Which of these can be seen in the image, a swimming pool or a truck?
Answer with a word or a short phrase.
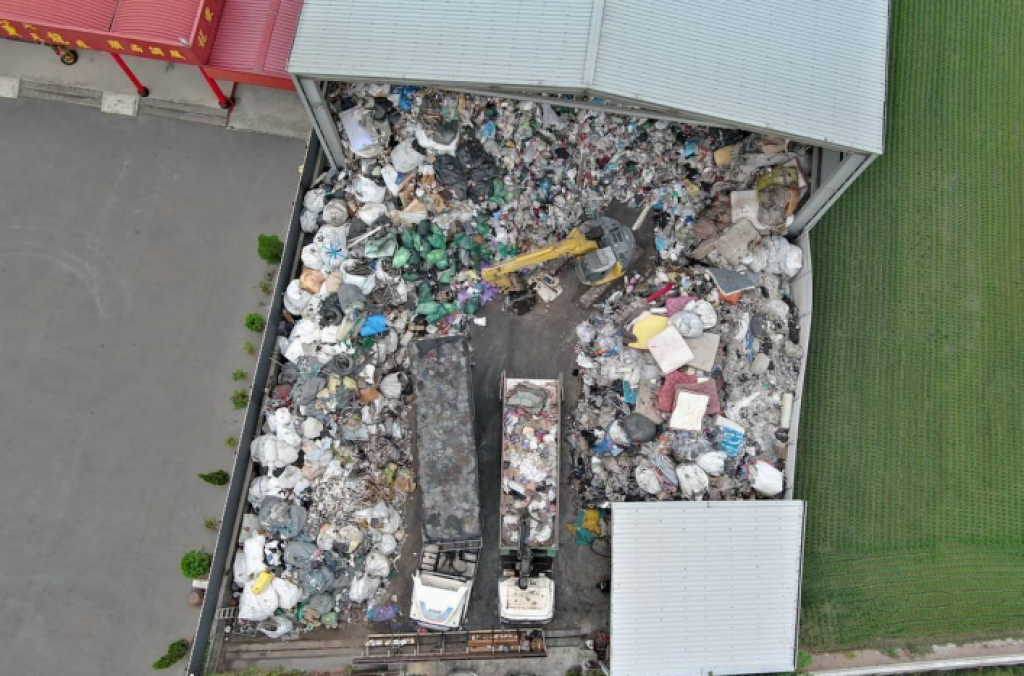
truck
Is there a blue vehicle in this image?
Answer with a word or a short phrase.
No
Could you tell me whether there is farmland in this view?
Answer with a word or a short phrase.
Yes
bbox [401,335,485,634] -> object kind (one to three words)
truck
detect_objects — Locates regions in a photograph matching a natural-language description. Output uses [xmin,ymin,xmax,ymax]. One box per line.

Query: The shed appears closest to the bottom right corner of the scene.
[603,500,809,676]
